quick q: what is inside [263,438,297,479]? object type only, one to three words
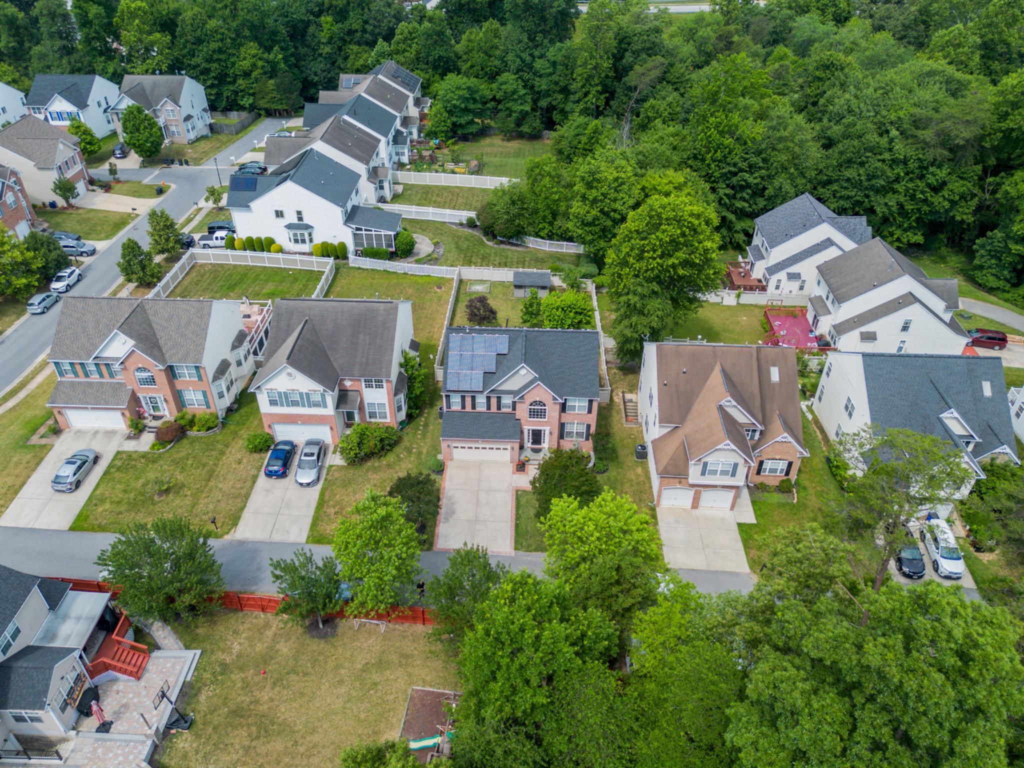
car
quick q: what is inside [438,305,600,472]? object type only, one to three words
house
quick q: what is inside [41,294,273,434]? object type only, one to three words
house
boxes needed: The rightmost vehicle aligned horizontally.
[956,325,1015,350]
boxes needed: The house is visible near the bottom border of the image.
[0,563,152,760]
